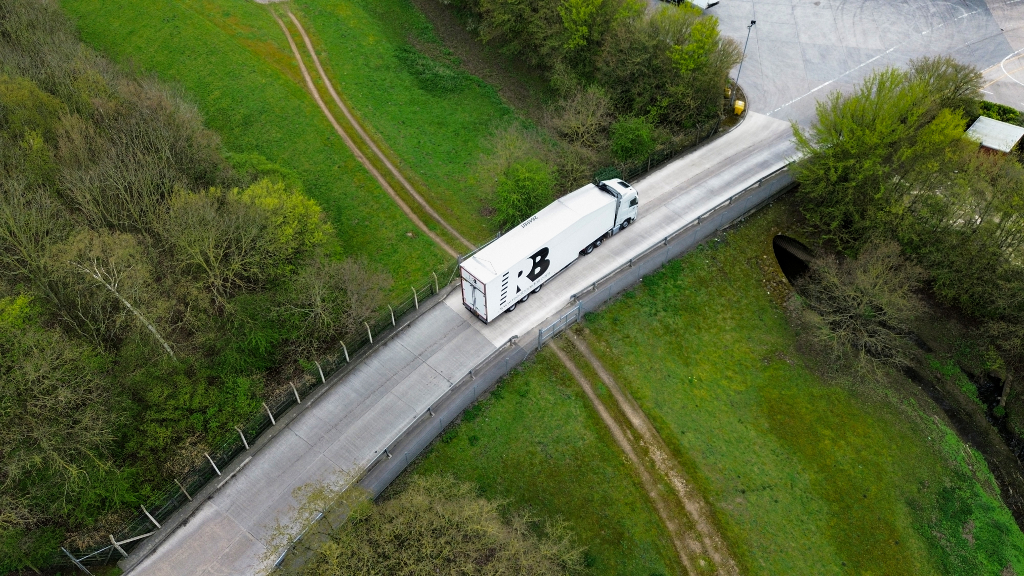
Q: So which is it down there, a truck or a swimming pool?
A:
truck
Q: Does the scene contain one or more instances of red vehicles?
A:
No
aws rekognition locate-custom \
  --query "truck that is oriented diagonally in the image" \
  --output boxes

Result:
[460,179,640,325]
